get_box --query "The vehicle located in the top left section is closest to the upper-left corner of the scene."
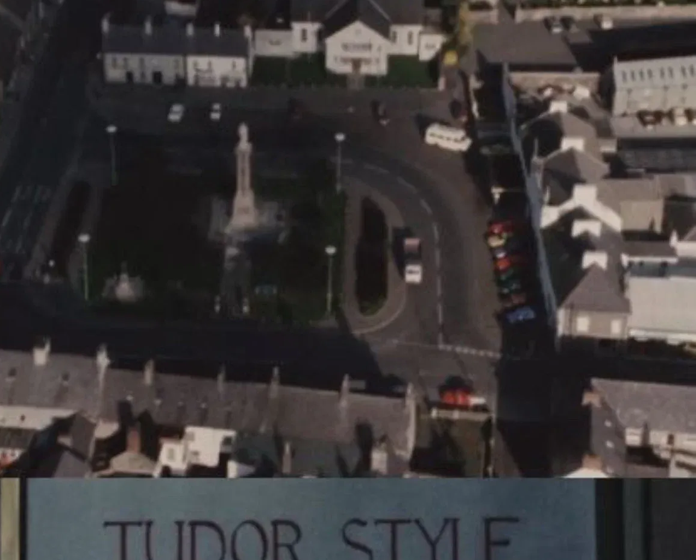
[166,103,184,119]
